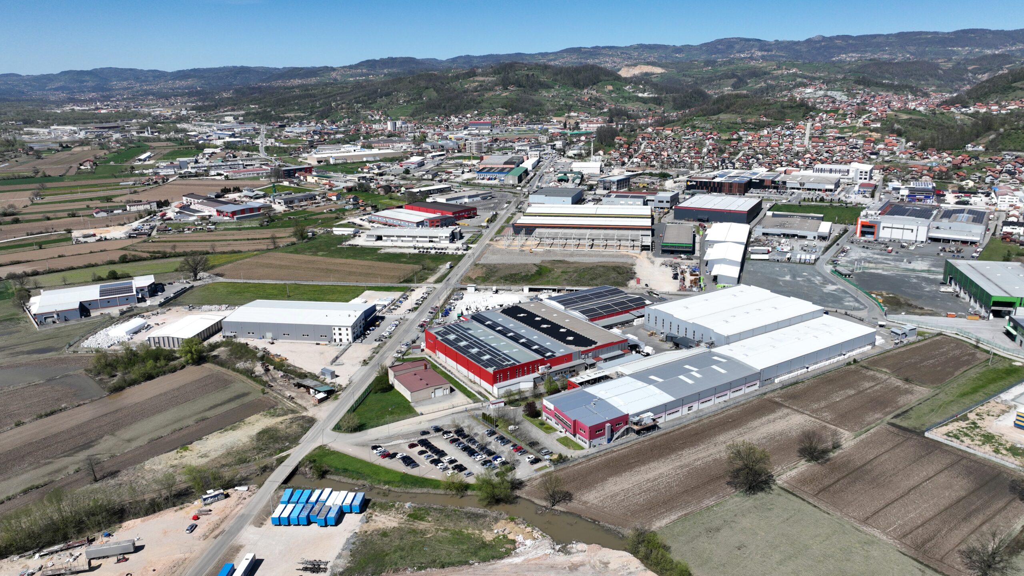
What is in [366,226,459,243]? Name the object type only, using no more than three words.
building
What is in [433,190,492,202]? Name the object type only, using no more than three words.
building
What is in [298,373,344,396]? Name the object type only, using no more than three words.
shed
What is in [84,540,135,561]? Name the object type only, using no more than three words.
trailer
